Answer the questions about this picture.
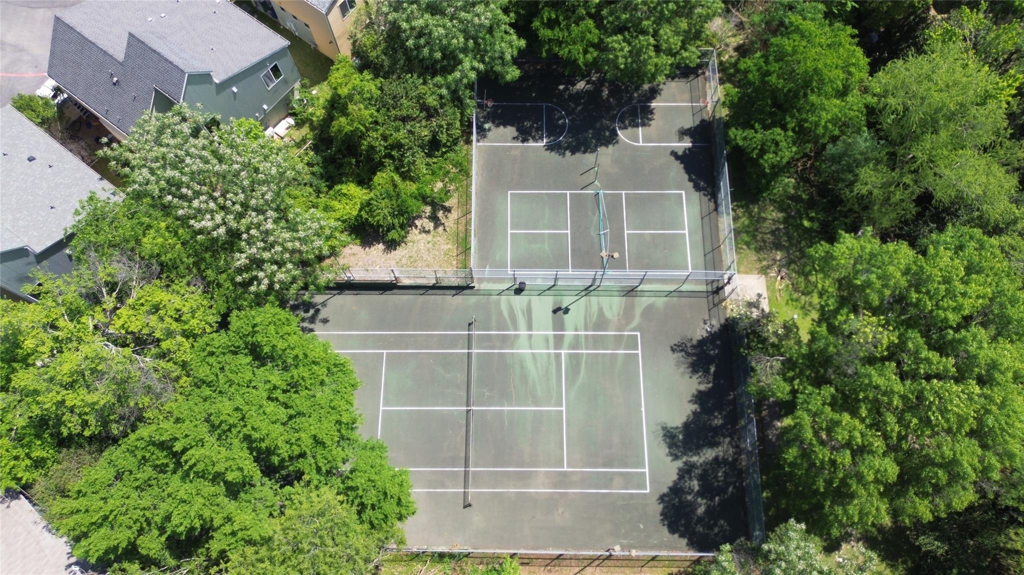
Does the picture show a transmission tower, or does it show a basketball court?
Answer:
basketball court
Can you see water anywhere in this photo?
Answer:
No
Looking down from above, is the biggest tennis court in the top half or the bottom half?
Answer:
bottom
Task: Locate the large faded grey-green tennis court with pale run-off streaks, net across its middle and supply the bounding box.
[268,286,746,549]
